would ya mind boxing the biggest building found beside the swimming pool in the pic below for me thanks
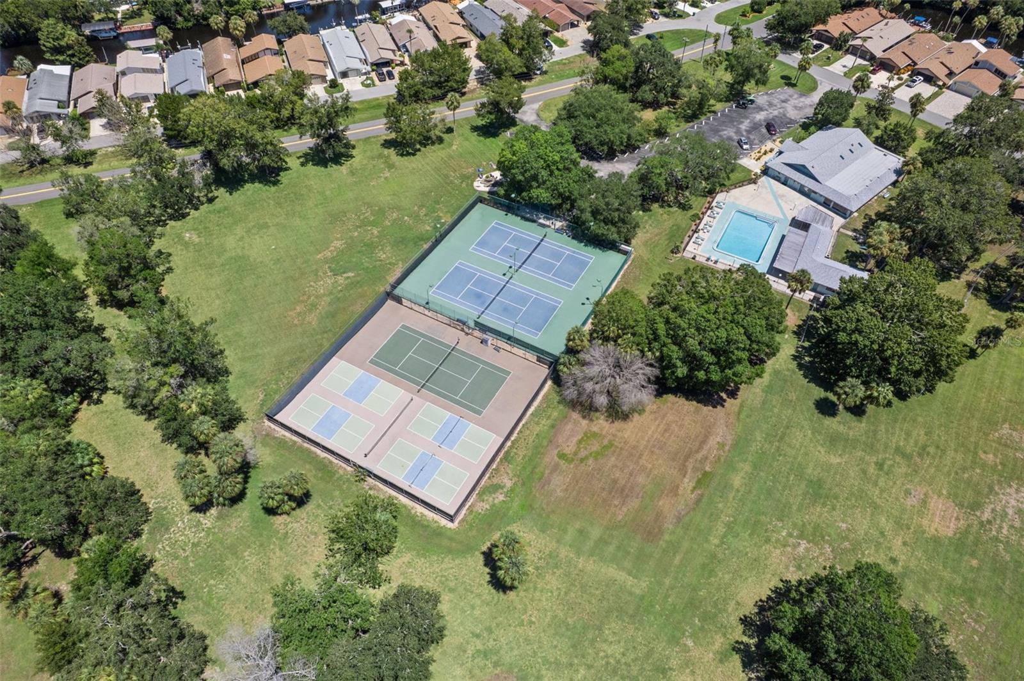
[766,127,907,220]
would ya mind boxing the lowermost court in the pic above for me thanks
[377,438,469,505]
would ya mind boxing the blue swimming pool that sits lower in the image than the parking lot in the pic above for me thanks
[713,207,781,266]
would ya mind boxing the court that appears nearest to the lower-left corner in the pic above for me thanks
[288,393,375,453]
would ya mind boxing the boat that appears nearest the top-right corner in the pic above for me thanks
[981,32,1001,46]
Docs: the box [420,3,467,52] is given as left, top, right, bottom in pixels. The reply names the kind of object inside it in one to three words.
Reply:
house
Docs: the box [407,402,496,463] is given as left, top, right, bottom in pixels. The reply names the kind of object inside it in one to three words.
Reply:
sports court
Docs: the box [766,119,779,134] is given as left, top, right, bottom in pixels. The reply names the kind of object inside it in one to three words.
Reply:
vehicle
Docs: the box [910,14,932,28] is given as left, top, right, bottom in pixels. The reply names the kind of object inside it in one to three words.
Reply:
boat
